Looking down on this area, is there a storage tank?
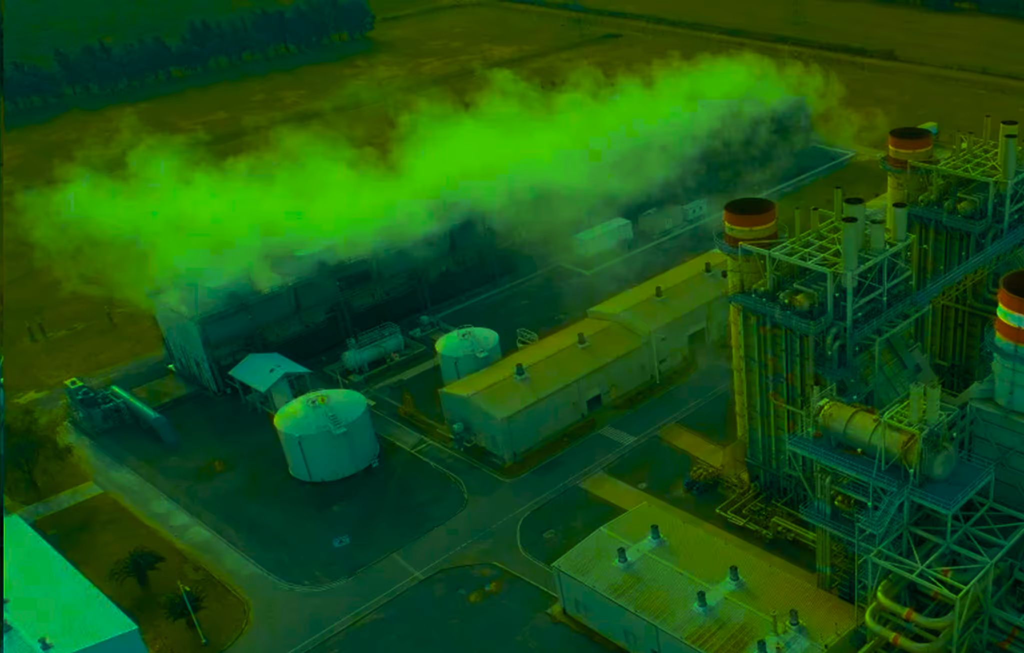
Yes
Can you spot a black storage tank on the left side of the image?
No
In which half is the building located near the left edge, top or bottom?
bottom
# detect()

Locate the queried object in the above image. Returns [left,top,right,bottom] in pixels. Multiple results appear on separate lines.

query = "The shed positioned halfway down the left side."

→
[230,352,316,419]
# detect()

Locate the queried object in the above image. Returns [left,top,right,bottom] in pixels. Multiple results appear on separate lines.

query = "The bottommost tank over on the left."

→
[273,387,388,483]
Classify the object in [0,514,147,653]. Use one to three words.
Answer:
building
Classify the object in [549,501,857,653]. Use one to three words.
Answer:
warehouse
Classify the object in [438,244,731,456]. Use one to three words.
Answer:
building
